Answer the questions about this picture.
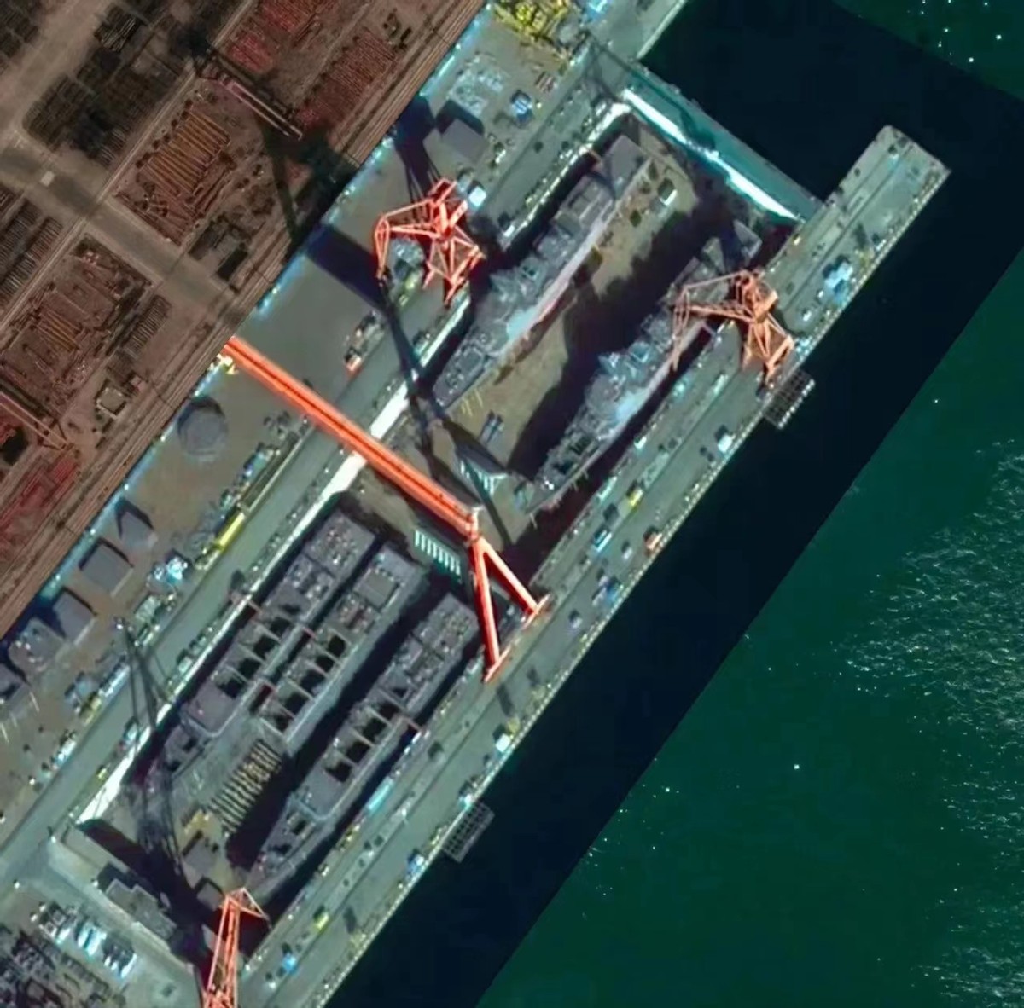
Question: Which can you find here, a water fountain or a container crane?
container crane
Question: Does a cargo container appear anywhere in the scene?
Yes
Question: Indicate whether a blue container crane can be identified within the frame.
No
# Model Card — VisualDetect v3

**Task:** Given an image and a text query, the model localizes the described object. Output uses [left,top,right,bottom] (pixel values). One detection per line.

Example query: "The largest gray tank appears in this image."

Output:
[182,409,228,454]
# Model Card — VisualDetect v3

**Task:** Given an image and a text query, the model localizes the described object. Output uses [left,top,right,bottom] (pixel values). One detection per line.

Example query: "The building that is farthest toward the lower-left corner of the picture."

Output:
[105,880,180,945]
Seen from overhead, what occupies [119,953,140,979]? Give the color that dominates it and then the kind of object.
white truck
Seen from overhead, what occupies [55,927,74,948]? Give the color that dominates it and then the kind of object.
white vehicle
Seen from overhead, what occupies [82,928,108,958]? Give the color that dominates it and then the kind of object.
white truck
